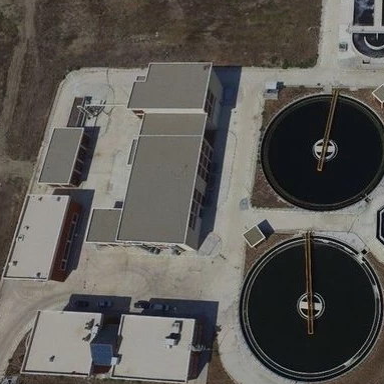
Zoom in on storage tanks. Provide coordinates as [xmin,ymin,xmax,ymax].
[239,232,384,384]
[260,87,384,213]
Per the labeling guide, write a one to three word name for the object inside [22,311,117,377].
building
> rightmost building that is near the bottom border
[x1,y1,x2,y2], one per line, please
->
[110,315,213,382]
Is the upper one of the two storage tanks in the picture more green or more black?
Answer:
black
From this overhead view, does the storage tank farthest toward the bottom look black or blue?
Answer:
black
